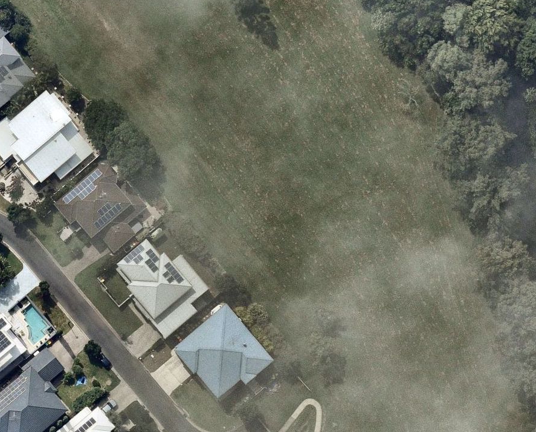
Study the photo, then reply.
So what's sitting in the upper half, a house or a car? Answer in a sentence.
The one visible in the upper half is a house.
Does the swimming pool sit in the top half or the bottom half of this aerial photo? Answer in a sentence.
It is in the bottom half that the swimming pool appears.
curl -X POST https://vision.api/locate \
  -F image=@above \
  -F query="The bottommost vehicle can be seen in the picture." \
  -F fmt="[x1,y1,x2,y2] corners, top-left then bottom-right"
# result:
[100,396,120,415]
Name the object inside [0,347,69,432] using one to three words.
house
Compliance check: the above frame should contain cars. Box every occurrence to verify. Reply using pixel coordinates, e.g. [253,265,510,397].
[100,396,120,415]
[96,350,116,373]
